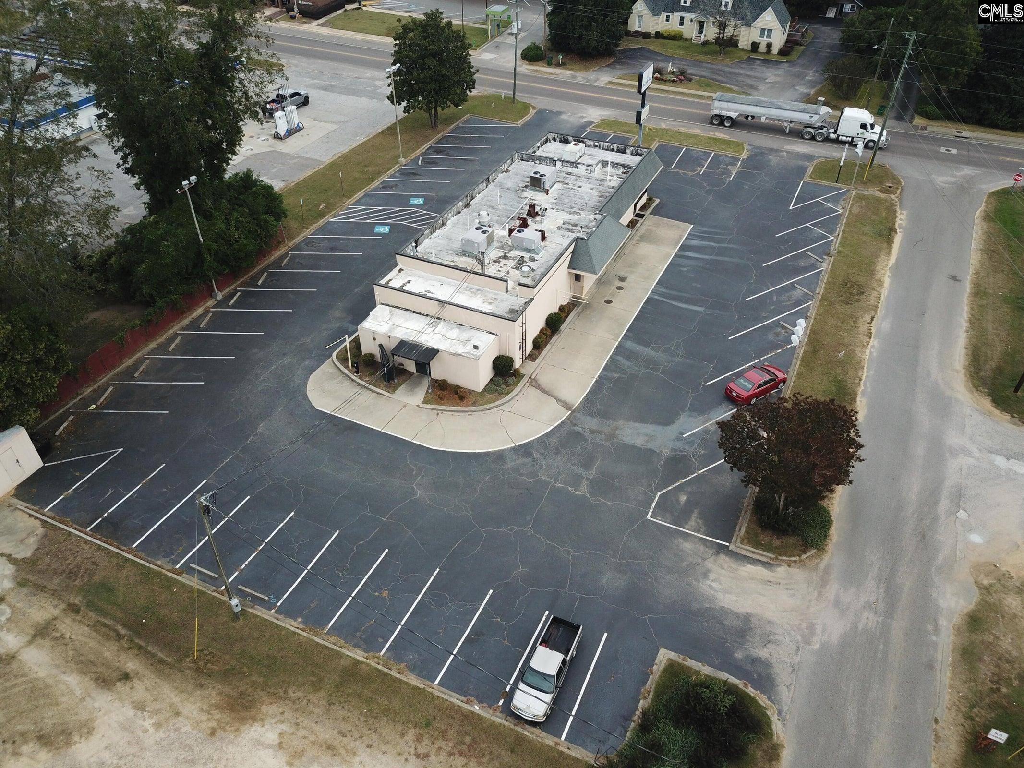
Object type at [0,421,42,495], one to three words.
shed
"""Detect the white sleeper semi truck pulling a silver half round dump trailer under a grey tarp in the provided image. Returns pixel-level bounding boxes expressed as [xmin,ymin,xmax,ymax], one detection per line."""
[713,90,892,150]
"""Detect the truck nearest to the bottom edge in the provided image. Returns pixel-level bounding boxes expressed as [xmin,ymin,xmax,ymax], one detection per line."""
[510,608,590,720]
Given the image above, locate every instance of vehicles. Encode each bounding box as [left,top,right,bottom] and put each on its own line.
[713,90,892,150]
[510,608,590,720]
[725,364,792,405]
[256,86,312,112]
